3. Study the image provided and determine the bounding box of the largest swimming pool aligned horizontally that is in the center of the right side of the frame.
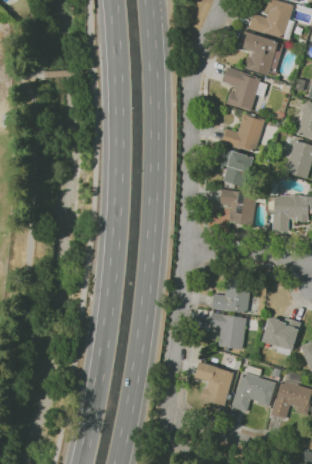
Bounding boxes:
[277,178,312,196]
